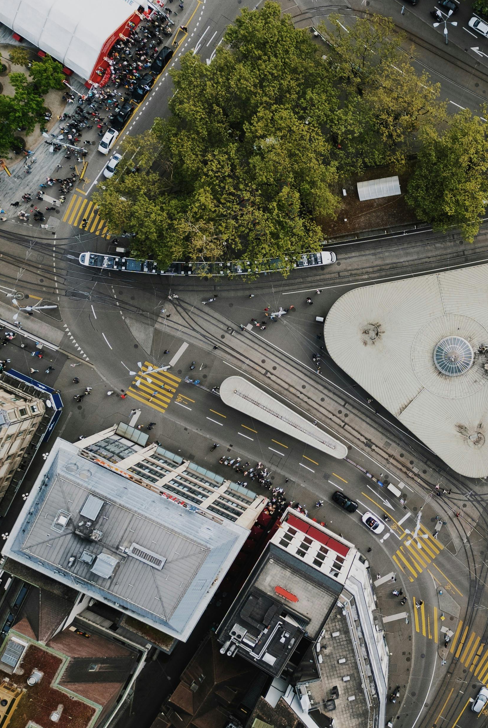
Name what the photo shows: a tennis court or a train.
train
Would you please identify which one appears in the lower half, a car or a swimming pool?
car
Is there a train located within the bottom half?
No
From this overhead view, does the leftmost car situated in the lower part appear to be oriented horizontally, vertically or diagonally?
diagonally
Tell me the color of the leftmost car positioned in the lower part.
black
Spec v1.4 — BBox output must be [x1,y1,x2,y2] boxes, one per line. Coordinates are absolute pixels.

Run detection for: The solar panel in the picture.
[0,639,26,668]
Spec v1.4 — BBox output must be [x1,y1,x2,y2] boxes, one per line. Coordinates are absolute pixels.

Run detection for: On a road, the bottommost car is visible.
[469,684,488,715]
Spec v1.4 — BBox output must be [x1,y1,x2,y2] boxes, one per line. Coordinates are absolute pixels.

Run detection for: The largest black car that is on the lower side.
[329,488,361,515]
